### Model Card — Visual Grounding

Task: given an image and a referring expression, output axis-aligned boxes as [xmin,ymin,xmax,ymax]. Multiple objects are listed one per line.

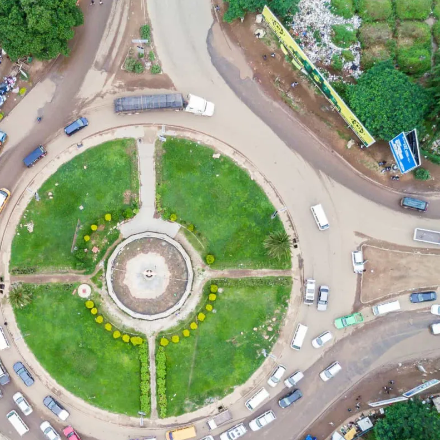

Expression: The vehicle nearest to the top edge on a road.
[116,93,215,115]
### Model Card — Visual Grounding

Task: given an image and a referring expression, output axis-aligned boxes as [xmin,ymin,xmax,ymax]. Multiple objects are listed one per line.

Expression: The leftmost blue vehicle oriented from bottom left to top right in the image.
[22,145,48,169]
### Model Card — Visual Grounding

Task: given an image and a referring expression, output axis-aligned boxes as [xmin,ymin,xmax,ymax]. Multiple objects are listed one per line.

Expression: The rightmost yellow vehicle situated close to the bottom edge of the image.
[166,425,197,440]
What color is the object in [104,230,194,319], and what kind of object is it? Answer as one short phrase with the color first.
white fountain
